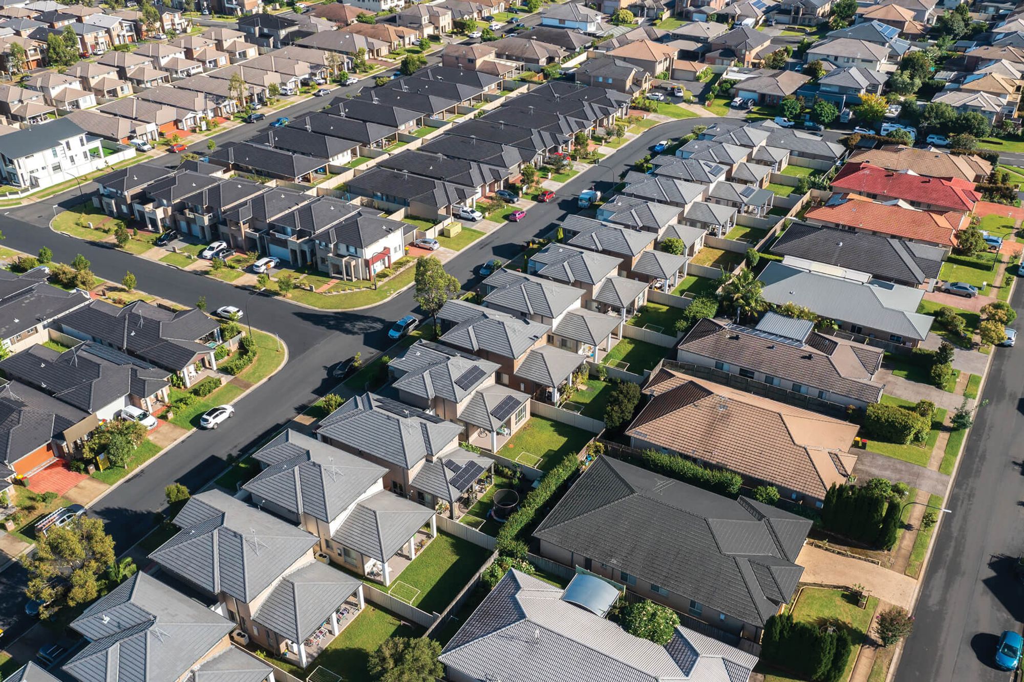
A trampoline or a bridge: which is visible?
trampoline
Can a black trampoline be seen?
Yes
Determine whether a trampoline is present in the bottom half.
Yes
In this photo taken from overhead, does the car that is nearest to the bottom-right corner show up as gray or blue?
blue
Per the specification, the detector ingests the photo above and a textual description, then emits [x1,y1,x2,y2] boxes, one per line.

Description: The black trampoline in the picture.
[486,483,522,521]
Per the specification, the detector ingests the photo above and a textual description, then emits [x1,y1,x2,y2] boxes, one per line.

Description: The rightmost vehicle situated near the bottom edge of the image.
[990,633,1024,677]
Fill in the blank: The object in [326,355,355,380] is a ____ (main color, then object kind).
black car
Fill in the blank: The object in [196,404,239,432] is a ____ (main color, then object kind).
white car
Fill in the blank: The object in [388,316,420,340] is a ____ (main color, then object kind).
blue car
